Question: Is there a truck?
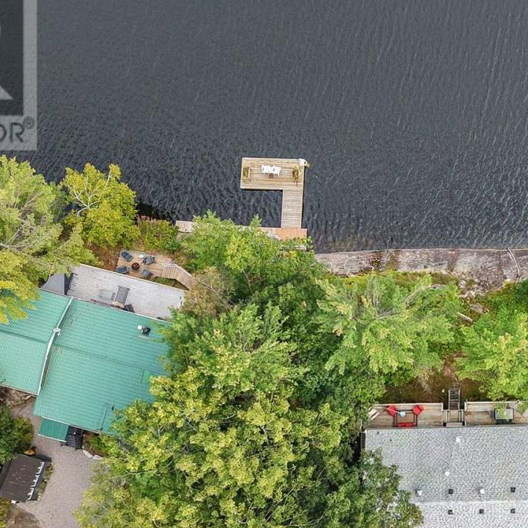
No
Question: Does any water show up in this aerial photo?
Yes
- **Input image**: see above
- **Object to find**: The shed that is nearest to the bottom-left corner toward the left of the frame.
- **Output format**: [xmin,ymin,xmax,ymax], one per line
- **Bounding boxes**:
[2,453,57,502]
